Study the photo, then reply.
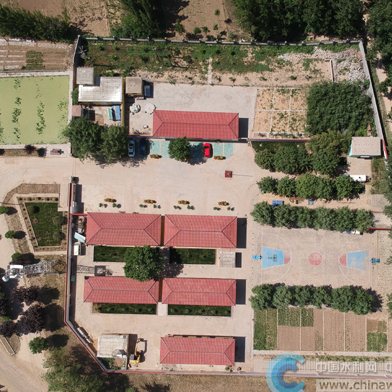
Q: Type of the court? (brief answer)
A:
basketball court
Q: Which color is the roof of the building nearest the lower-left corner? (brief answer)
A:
white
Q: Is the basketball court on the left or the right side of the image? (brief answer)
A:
right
